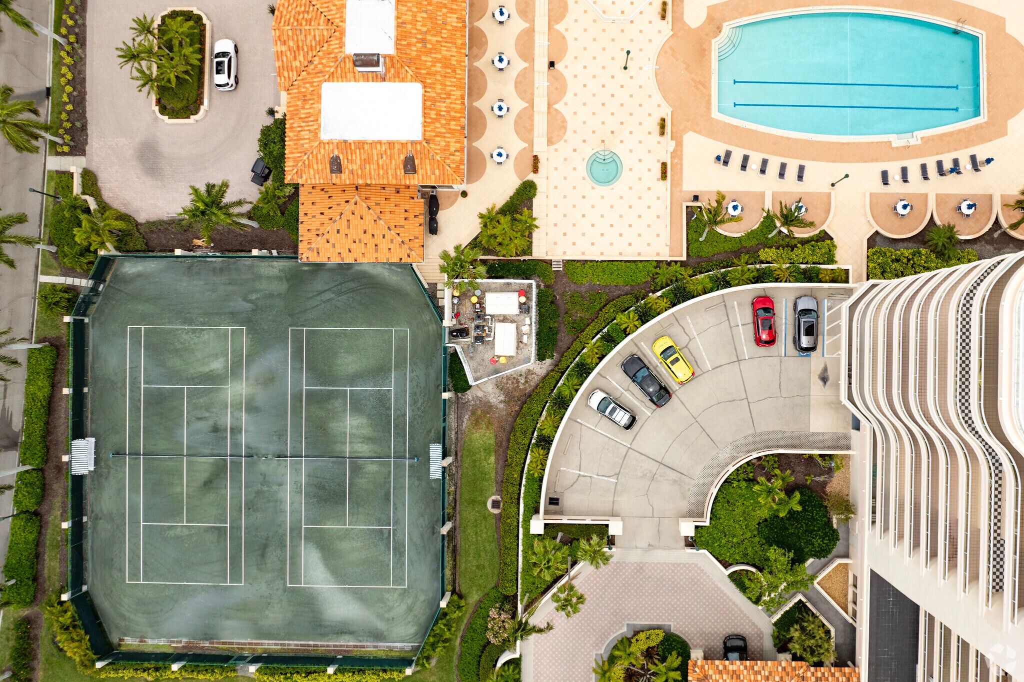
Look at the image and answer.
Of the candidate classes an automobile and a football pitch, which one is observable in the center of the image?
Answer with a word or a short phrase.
automobile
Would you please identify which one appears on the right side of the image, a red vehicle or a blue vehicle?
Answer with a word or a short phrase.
red vehicle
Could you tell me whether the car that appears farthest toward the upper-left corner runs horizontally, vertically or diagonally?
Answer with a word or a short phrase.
vertically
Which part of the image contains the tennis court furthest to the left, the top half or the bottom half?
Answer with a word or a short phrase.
bottom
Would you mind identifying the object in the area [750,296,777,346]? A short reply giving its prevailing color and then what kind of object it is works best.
red car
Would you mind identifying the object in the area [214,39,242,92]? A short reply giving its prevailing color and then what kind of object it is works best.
white car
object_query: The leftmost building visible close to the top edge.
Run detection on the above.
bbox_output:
[271,0,472,192]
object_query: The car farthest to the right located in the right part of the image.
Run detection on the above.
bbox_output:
[792,295,821,353]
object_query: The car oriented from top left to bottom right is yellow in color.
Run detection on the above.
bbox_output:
[655,336,695,386]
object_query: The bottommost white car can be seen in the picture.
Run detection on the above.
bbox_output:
[589,389,638,433]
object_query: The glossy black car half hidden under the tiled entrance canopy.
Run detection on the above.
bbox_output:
[723,634,749,661]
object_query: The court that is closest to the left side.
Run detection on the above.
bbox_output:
[87,259,266,651]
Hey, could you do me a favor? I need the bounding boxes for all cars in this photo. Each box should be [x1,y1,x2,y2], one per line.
[623,352,671,409]
[655,336,695,386]
[589,389,638,433]
[750,296,777,346]
[723,634,749,661]
[214,39,242,92]
[792,295,821,353]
